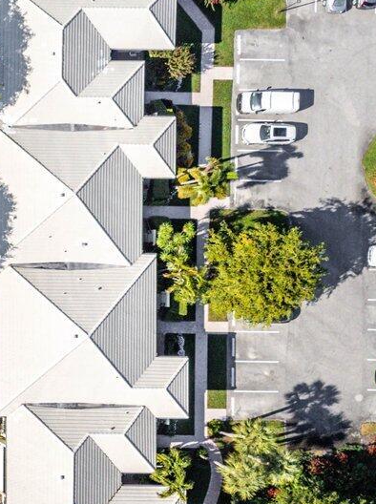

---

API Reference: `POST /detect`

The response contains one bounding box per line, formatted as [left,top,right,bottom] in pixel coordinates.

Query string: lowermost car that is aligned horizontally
[241,119,300,146]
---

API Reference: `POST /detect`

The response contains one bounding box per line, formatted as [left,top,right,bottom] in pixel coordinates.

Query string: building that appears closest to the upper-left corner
[0,0,178,128]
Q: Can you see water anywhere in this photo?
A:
No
